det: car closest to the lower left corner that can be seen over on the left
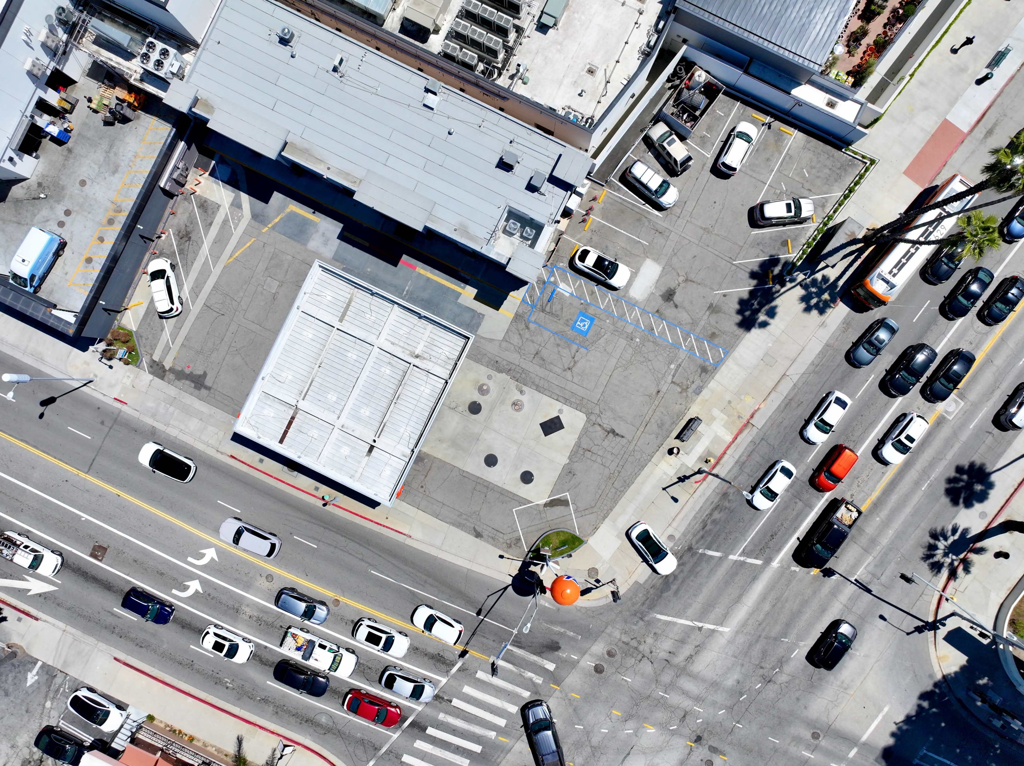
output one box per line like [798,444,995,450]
[33,727,90,766]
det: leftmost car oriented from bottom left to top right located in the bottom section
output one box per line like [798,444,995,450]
[750,459,796,510]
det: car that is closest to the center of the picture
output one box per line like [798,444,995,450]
[573,247,629,287]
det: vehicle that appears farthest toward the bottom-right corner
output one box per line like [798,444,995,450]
[811,618,853,673]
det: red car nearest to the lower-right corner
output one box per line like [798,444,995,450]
[812,445,857,491]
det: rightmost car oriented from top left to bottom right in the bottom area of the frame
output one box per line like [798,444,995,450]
[629,521,673,574]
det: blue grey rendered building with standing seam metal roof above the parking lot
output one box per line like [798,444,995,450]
[655,0,867,143]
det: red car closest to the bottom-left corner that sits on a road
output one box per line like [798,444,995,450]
[344,687,400,727]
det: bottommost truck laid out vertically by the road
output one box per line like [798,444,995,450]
[525,698,562,766]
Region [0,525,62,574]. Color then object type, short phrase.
white truck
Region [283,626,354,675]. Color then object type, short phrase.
white truck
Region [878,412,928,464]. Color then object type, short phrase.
white car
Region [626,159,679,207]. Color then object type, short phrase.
white car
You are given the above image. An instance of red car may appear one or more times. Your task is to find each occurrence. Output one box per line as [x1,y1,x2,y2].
[812,445,857,491]
[344,687,400,727]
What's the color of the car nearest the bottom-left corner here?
black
